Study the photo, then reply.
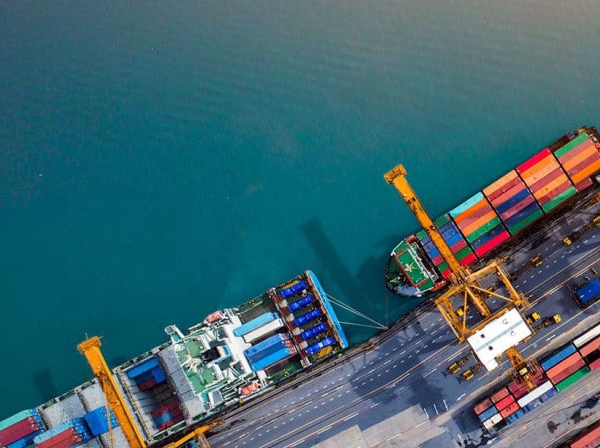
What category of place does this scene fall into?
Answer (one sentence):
This image shows a port.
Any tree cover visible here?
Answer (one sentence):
No, tree cover can't be seen anywhere here.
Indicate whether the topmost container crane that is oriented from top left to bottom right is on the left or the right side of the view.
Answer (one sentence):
The topmost container crane that is oriented from top left to bottom right is on the right side of the image.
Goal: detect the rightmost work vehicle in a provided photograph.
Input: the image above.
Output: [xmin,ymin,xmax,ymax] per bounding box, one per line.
[559,213,600,246]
